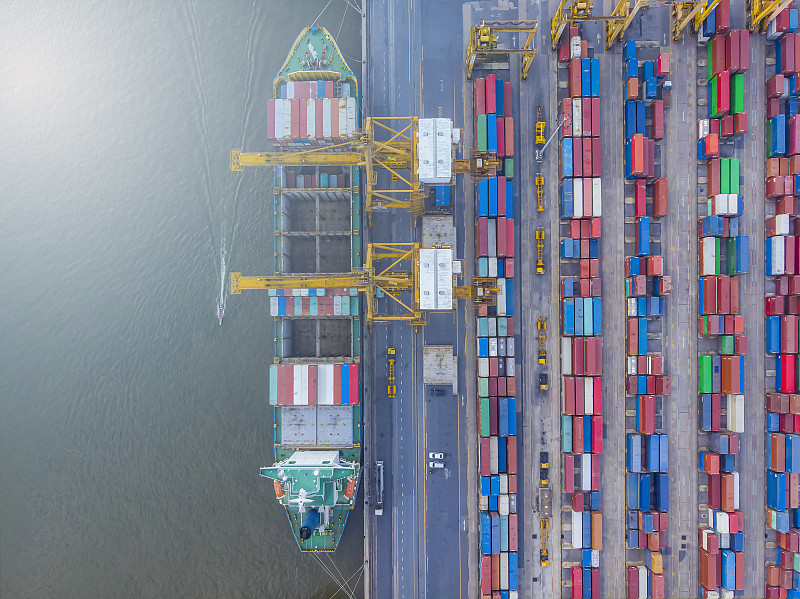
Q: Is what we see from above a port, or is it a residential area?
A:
port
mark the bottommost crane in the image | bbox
[228,239,500,340]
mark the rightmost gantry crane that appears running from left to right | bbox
[695,0,788,33]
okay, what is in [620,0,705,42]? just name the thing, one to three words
container crane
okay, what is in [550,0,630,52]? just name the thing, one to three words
container crane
